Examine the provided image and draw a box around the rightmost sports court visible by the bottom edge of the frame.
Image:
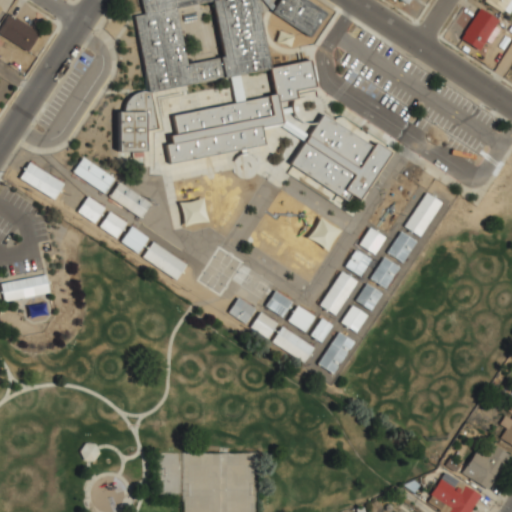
[184,454,256,512]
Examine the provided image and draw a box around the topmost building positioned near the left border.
[0,14,38,52]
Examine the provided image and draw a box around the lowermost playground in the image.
[86,475,128,512]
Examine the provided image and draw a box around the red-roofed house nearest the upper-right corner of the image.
[462,8,500,50]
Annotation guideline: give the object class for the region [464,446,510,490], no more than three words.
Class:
house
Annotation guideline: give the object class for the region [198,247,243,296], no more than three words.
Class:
basketball court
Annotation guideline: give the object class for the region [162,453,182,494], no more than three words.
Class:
sports court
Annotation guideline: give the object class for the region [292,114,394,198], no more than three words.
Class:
building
